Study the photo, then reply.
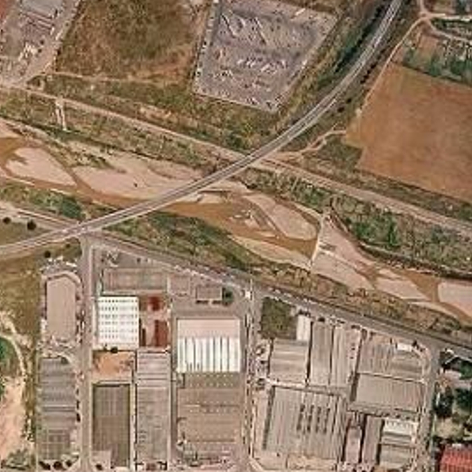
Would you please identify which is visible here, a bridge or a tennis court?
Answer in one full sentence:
There is a bridge in the scene.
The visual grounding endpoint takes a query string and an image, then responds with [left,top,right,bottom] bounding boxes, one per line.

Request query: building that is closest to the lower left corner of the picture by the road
[39,428,70,459]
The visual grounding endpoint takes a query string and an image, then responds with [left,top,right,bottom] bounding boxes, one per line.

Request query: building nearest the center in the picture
[197,285,222,301]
